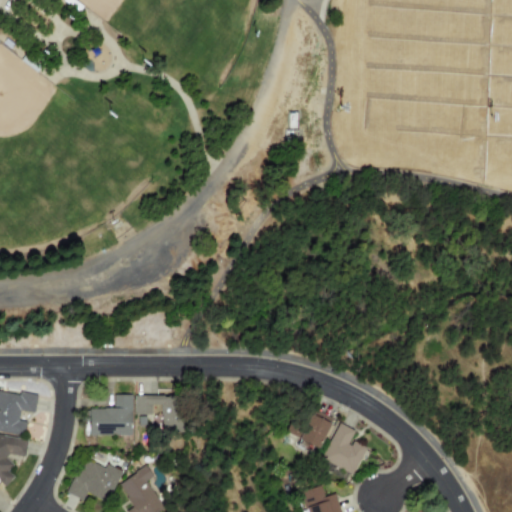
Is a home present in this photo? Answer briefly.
Yes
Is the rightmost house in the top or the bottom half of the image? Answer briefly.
bottom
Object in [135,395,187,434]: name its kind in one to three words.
house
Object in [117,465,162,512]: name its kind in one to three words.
house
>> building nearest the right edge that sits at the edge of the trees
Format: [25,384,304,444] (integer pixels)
[326,422,371,475]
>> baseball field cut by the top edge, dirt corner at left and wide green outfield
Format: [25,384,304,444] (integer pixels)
[83,0,254,112]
